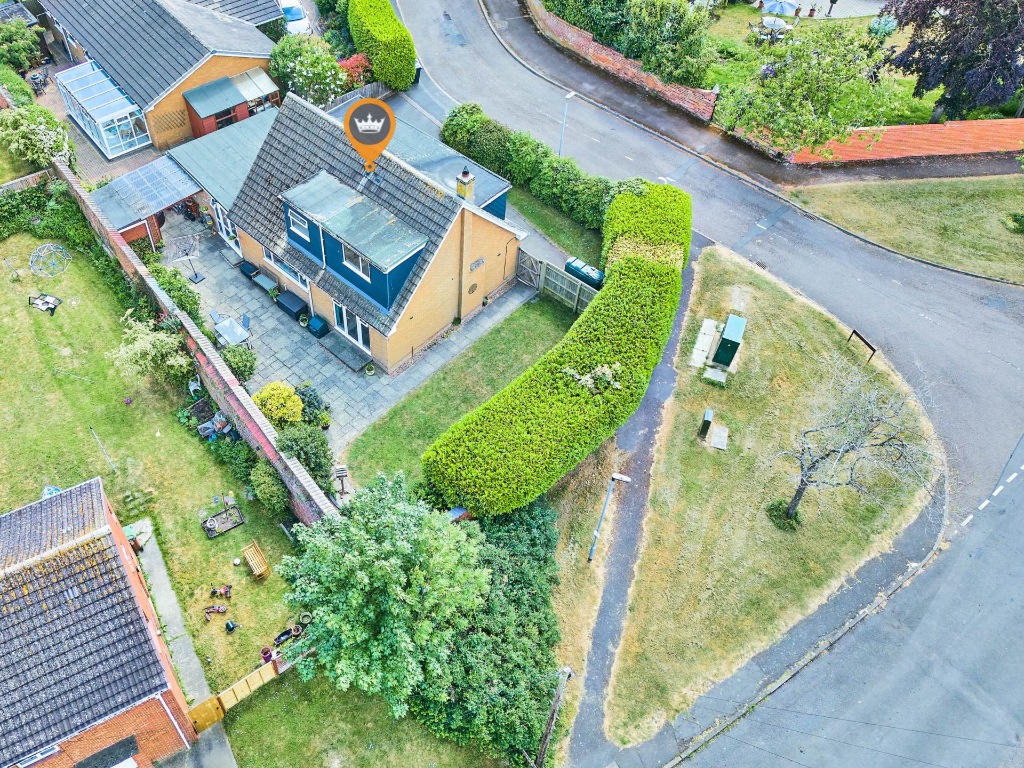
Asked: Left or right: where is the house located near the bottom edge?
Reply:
left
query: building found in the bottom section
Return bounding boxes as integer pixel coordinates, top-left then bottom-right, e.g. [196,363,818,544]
[0,470,196,768]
